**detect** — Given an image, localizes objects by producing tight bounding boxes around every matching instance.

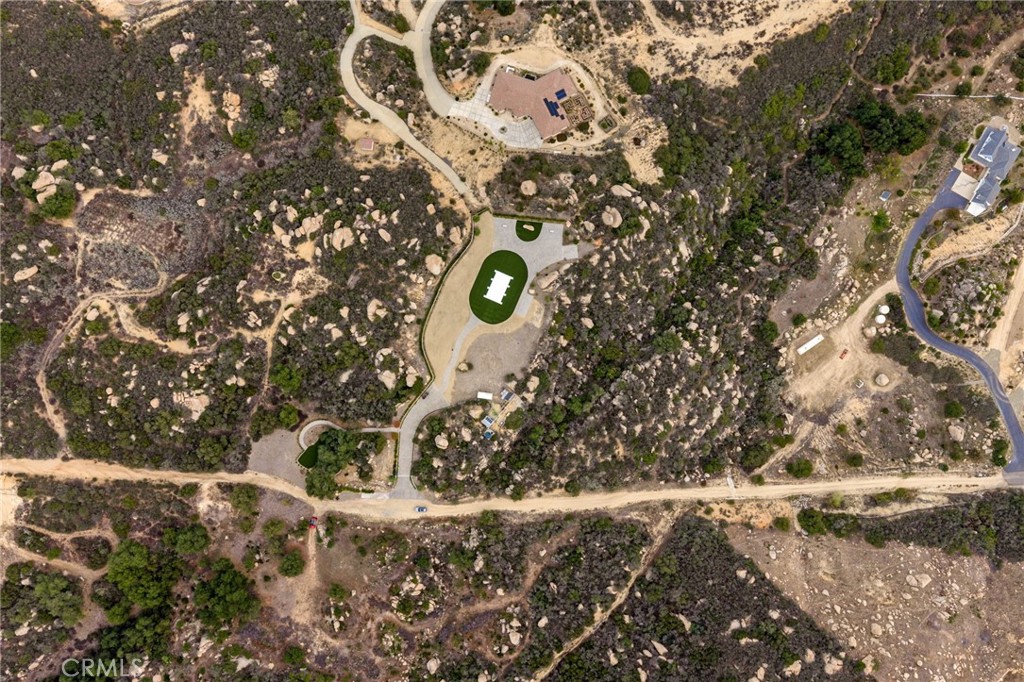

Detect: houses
[487,67,578,141]
[965,124,1021,217]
